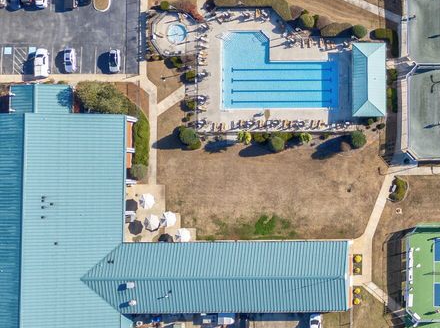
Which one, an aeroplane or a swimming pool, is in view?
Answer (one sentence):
The one in the frame is a swimming pool.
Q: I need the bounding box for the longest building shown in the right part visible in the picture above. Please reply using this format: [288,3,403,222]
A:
[352,43,386,117]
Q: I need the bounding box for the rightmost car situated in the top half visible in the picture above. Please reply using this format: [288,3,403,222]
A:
[108,49,122,73]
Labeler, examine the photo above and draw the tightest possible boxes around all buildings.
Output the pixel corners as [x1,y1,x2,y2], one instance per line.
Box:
[352,43,386,117]
[0,83,355,328]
